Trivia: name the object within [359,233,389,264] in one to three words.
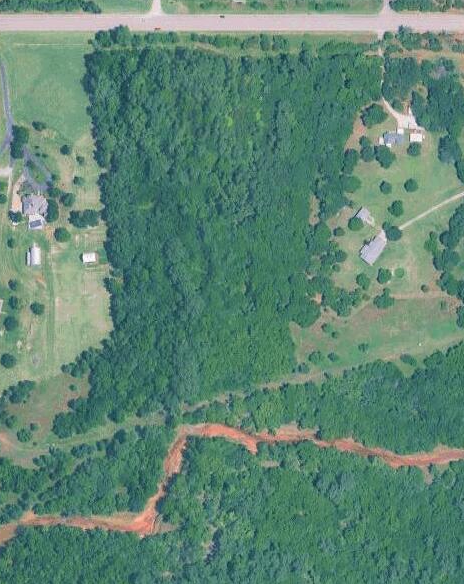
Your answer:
house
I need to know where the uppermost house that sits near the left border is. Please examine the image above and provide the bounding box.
[22,193,52,229]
